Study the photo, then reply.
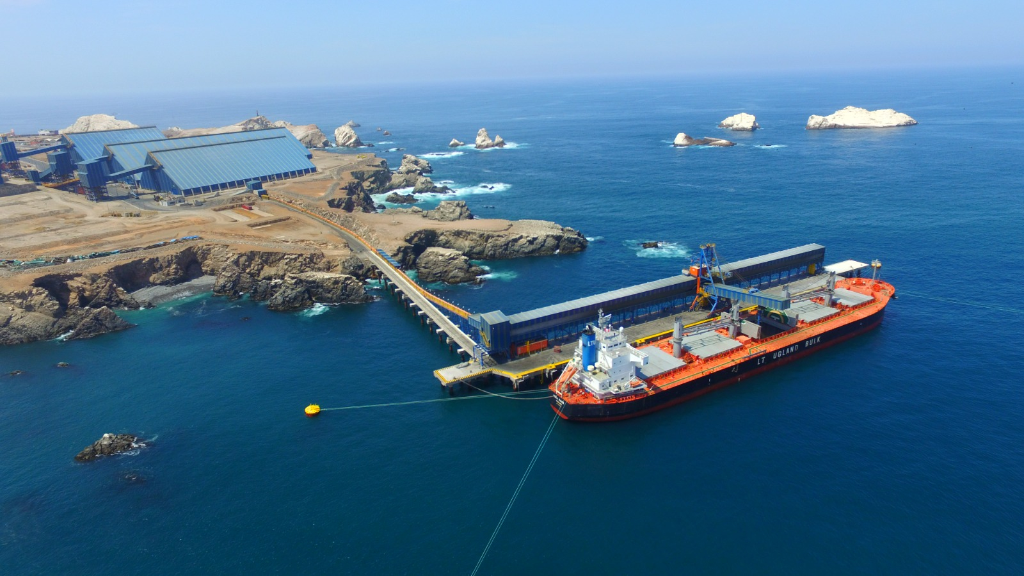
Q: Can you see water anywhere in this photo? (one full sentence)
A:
Yes, water shows up in the scene.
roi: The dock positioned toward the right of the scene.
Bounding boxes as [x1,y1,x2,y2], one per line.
[434,268,856,399]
